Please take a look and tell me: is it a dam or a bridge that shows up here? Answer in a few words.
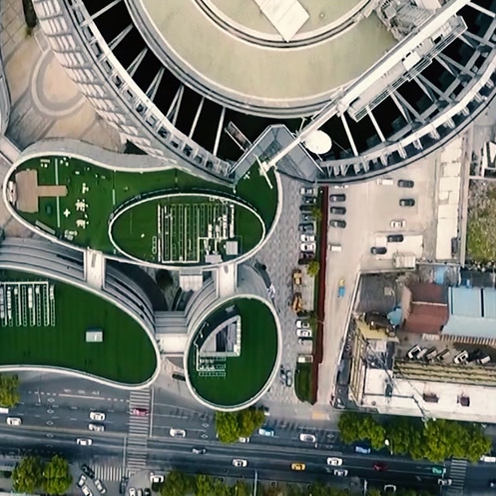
bridge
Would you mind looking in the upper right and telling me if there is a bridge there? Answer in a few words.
No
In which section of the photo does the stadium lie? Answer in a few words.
top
